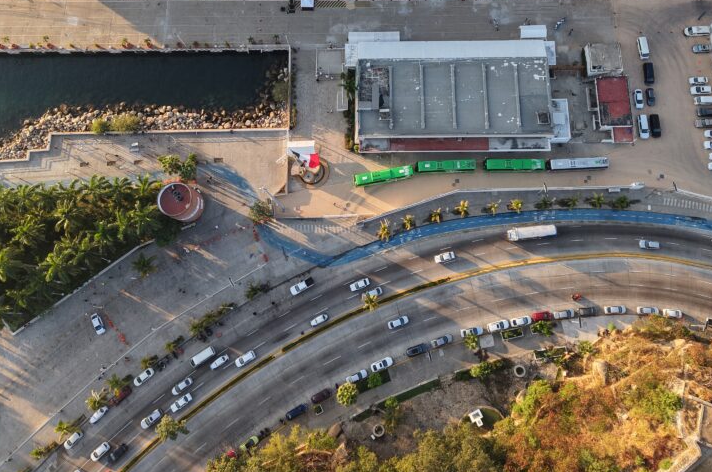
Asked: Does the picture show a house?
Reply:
Yes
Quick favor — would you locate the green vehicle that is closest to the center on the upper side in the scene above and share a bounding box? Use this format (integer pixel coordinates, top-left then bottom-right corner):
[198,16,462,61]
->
[352,162,415,188]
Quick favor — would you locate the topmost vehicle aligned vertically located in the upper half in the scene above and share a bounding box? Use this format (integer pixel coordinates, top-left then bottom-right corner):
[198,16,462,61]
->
[638,34,650,60]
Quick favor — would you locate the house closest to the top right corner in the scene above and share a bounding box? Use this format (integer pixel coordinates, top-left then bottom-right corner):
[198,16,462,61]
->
[582,42,624,80]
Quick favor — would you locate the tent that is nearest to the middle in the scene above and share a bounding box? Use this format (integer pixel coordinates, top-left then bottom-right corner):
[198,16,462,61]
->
[288,141,316,157]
